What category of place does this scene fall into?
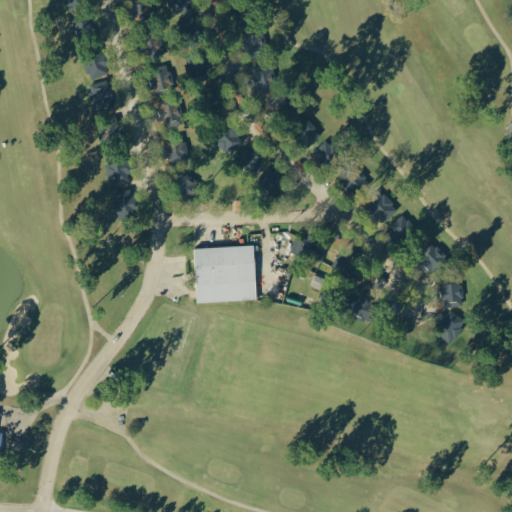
golf course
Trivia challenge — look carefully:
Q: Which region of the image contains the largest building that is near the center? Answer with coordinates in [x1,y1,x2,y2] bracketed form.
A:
[194,244,258,304]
